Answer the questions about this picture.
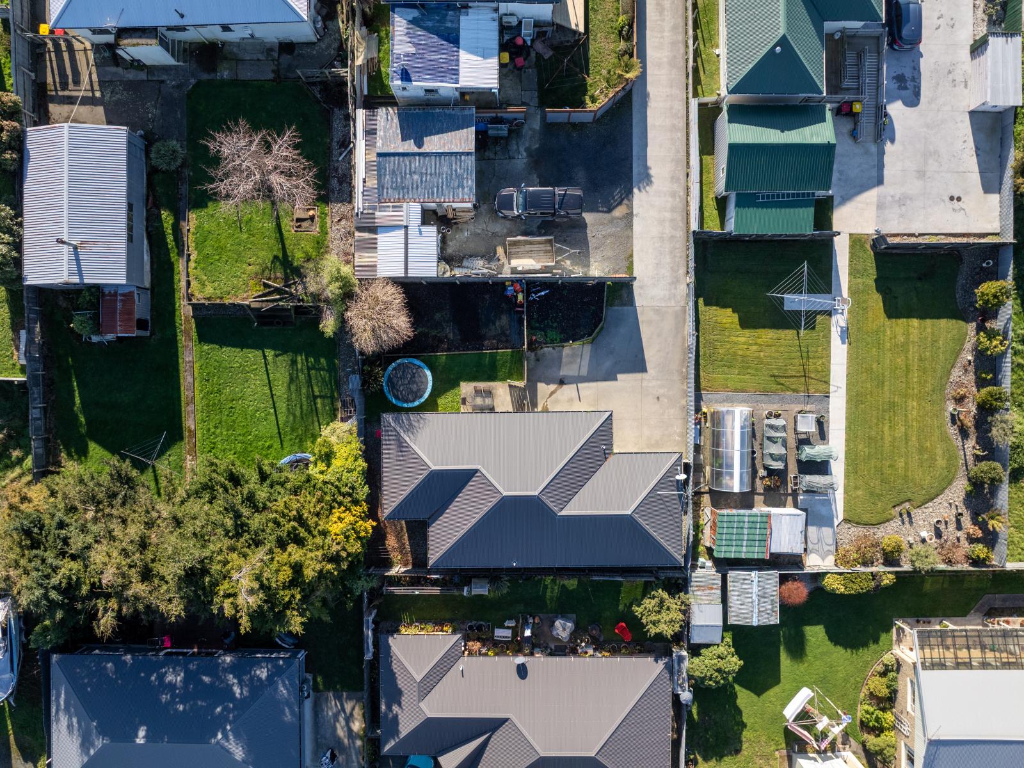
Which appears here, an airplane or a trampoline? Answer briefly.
trampoline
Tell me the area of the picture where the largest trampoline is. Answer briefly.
center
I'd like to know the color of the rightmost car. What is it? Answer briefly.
blue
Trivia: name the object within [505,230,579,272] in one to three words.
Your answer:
trailer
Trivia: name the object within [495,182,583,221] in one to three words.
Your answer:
truck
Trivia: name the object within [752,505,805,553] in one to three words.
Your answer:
shed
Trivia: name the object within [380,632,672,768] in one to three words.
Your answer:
house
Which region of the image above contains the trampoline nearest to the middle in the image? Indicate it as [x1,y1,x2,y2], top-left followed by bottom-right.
[384,357,433,407]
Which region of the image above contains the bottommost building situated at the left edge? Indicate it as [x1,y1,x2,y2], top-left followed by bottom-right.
[48,632,315,768]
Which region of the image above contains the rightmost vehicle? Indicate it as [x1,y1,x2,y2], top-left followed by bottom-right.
[883,0,925,55]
